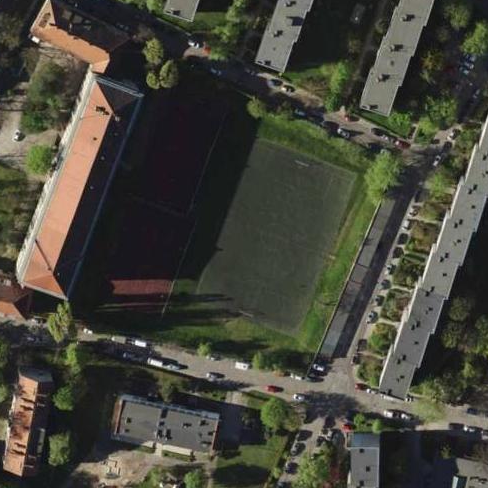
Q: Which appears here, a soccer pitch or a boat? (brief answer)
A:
soccer pitch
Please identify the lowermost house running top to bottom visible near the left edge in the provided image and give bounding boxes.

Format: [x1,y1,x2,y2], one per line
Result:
[4,367,56,476]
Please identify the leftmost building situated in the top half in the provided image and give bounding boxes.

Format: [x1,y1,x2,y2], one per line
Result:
[21,70,145,300]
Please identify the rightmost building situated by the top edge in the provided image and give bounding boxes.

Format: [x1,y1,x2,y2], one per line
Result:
[360,0,432,116]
